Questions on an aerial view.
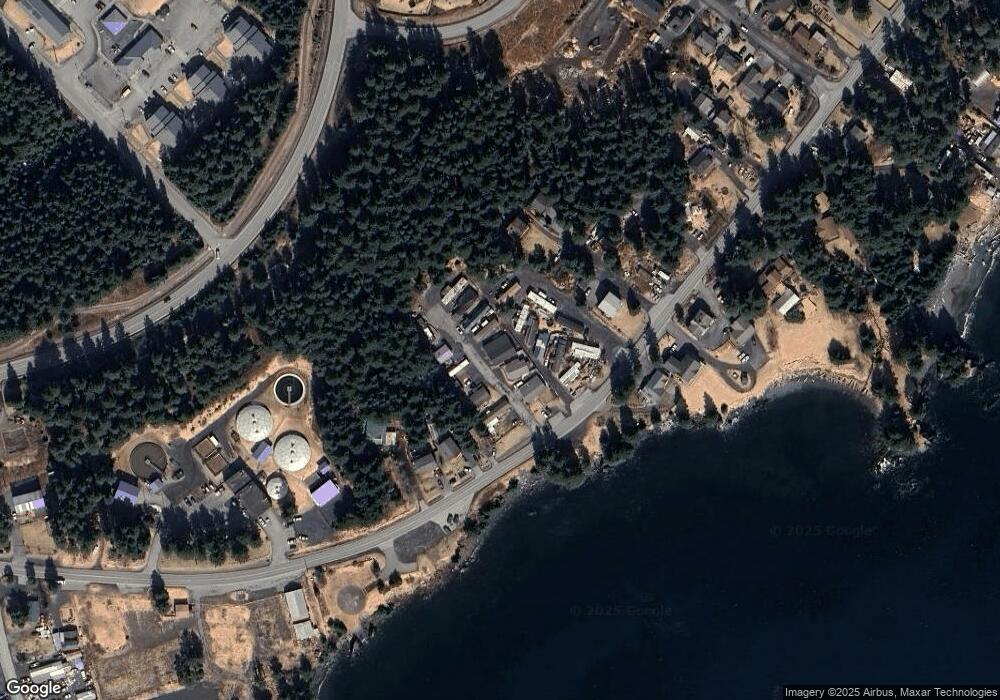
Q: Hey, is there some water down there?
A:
Yes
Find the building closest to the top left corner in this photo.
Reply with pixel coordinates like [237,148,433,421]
[16,0,70,42]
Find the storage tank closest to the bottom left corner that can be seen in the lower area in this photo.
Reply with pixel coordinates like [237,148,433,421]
[130,442,167,479]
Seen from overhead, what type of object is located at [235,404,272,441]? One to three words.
storage tank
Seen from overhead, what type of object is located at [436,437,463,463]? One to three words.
house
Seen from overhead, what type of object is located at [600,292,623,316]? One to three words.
shed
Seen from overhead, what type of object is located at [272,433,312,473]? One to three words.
storage tank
